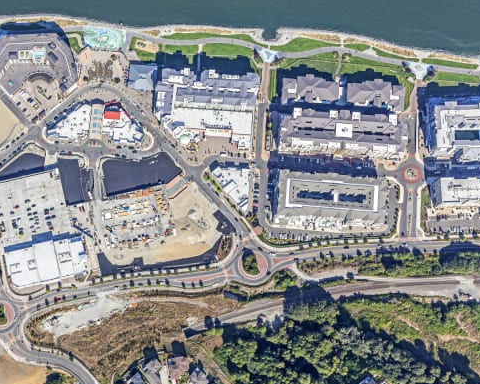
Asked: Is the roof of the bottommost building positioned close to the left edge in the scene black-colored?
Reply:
No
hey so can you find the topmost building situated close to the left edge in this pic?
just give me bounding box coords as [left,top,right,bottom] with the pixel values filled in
[0,33,79,96]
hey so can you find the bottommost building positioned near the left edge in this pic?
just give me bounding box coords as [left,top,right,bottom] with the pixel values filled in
[6,236,88,287]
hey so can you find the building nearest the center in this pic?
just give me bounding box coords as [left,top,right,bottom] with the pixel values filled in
[212,166,250,210]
